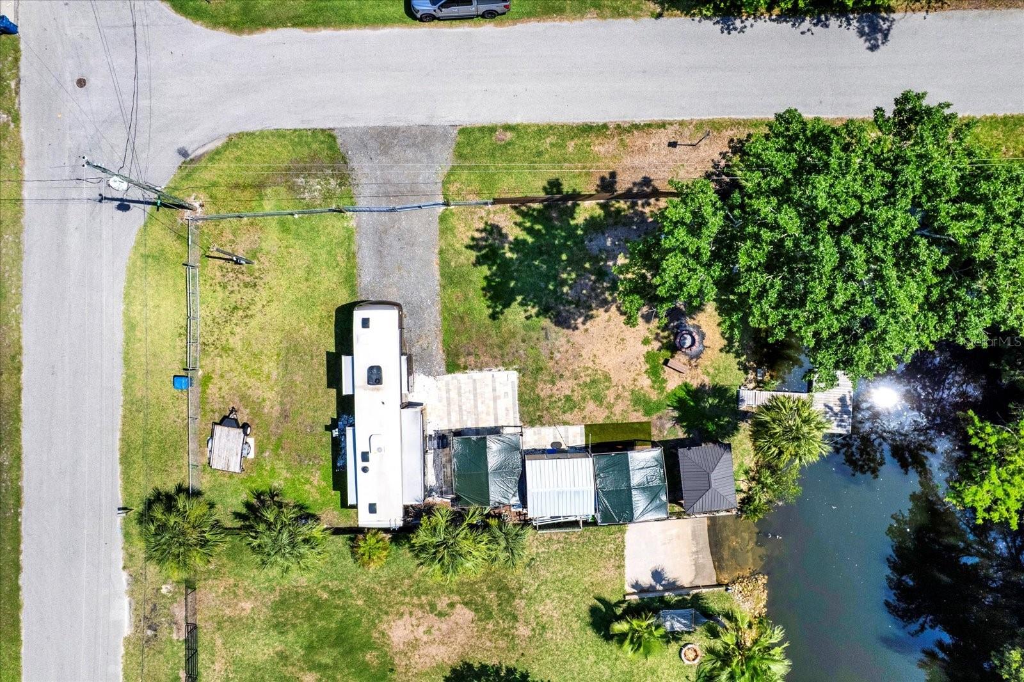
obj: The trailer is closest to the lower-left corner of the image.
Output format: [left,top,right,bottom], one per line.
[206,401,250,474]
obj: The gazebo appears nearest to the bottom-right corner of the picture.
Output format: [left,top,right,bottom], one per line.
[671,440,737,514]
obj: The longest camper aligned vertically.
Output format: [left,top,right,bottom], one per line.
[342,306,430,531]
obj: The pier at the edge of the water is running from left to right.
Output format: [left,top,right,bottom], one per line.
[738,375,855,435]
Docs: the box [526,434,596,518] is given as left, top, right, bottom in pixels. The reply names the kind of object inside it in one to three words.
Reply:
shed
